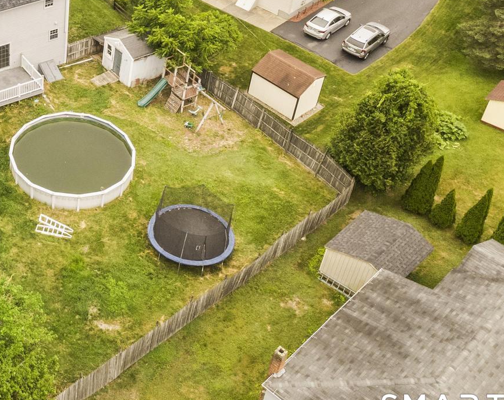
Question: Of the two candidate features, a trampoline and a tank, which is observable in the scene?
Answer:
trampoline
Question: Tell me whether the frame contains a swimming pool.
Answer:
Yes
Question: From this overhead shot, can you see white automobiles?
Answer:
Yes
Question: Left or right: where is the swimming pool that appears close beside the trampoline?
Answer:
left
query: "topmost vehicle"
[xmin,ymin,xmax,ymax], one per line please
[303,6,355,41]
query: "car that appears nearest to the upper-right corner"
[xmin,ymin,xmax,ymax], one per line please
[340,22,392,62]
